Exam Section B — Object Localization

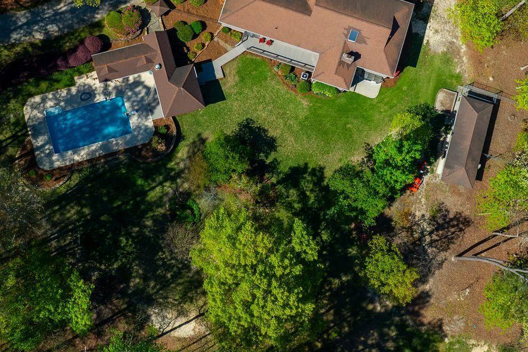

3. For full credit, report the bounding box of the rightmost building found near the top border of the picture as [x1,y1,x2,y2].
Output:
[218,0,415,92]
